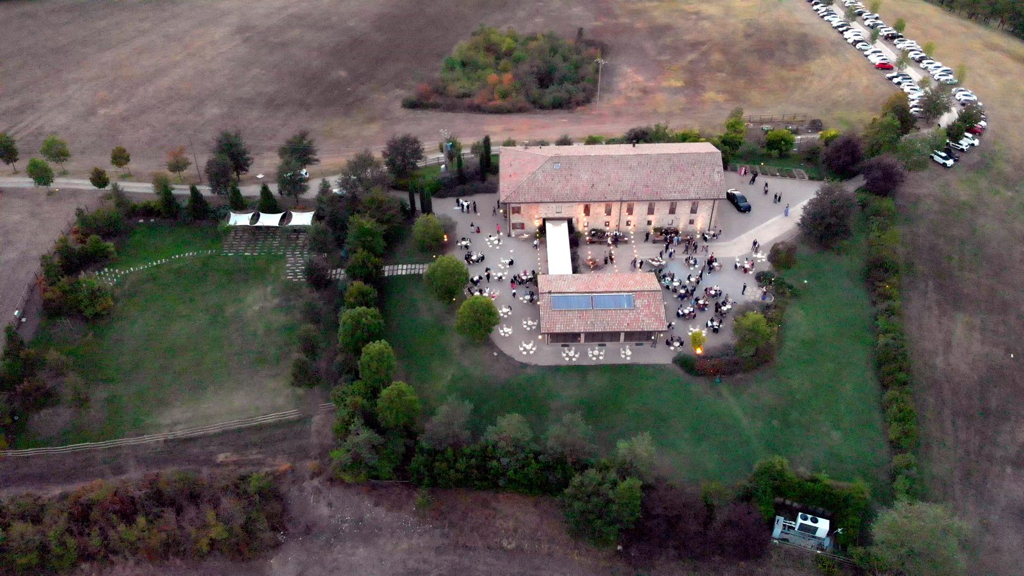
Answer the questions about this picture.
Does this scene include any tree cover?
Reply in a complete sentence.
Yes, some tree cover is visible.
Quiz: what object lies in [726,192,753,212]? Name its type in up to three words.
car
